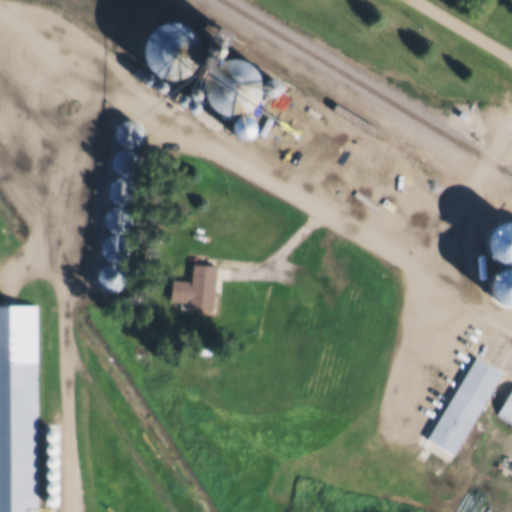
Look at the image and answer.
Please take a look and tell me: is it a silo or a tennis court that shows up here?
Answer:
silo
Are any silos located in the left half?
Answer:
Yes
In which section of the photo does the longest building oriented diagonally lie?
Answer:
bottom right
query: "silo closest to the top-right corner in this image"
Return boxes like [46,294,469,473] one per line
[489,220,512,266]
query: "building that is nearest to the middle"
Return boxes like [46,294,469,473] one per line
[172,266,216,314]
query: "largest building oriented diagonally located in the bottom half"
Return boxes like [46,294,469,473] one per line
[426,360,501,460]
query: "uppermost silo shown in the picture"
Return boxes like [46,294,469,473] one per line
[139,24,200,80]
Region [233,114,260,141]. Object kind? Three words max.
silo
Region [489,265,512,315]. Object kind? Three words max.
silo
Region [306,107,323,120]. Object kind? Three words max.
vehicle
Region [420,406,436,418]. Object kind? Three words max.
vehicle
